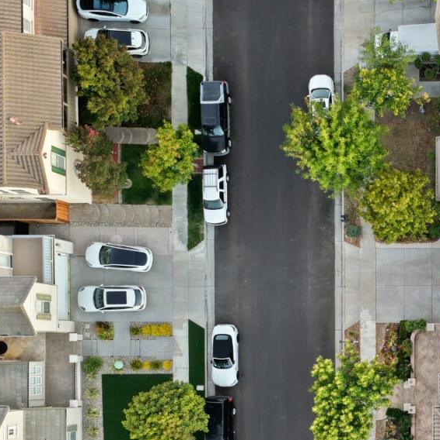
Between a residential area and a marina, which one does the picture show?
residential area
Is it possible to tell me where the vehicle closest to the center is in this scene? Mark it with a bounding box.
[197,165,233,227]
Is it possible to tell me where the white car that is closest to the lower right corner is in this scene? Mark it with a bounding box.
[207,323,241,388]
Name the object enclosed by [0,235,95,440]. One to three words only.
house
